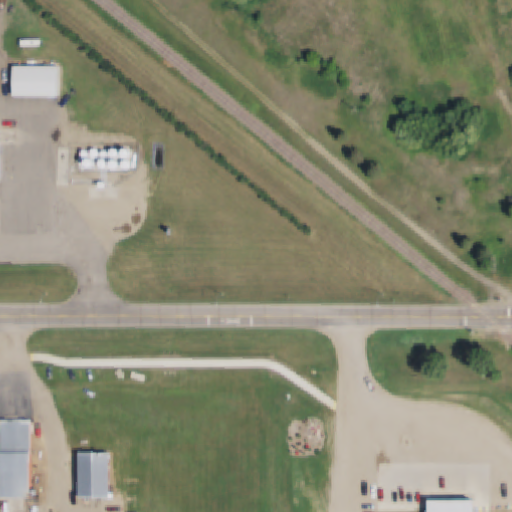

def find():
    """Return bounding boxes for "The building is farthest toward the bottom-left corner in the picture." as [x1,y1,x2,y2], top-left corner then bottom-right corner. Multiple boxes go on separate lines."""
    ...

[0,450,31,498]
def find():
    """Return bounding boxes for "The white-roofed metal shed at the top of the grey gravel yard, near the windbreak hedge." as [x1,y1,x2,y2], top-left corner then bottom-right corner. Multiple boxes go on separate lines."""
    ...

[10,65,62,98]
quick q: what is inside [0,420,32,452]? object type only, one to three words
building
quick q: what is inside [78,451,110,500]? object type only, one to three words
shed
